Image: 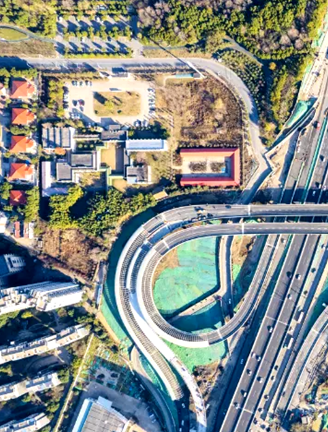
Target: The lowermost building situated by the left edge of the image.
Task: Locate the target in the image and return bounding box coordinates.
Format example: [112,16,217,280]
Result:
[0,409,60,432]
